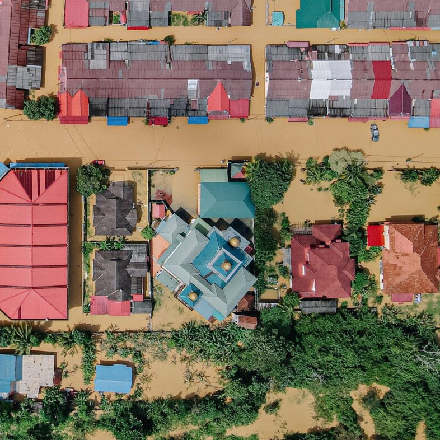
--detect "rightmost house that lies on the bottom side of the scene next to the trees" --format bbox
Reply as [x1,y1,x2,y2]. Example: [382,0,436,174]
[362,224,440,305]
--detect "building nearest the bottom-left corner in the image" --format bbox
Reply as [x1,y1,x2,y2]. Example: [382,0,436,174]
[0,352,62,399]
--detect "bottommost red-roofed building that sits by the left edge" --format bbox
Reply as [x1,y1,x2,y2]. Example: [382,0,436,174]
[0,162,69,320]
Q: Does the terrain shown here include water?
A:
Yes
